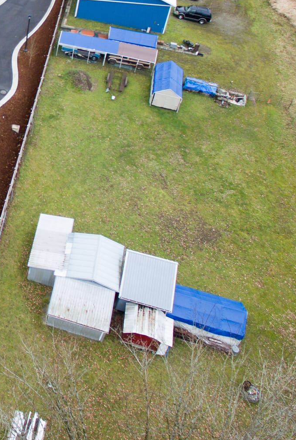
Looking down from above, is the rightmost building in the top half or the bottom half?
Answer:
top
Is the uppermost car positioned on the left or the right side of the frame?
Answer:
right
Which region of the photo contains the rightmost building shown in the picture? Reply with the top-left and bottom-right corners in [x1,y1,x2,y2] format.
[148,61,184,112]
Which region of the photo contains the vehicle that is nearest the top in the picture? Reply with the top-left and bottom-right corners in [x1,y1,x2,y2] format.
[174,2,215,23]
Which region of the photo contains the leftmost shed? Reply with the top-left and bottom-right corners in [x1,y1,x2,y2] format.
[27,212,74,288]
